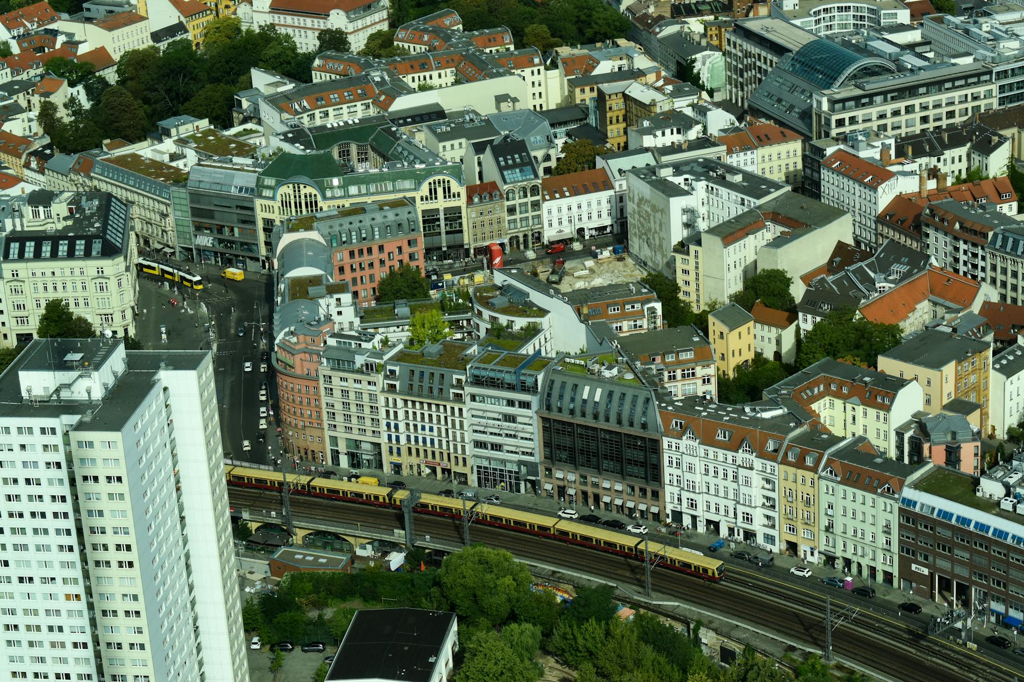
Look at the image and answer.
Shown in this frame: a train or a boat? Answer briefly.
train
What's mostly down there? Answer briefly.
buildings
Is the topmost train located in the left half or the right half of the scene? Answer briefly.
left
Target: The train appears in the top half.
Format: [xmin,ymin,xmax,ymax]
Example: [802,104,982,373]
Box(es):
[139,253,205,291]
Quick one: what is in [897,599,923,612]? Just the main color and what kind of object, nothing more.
black vehicle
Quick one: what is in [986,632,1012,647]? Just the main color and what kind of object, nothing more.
black car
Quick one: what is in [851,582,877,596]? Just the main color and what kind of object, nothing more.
black car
